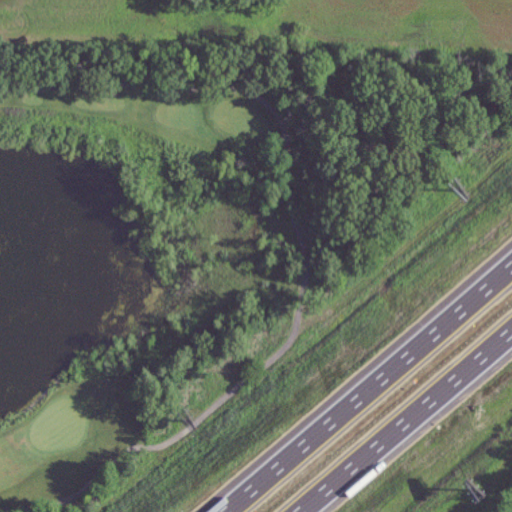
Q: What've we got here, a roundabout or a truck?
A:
truck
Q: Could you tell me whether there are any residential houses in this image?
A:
No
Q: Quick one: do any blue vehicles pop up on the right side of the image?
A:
No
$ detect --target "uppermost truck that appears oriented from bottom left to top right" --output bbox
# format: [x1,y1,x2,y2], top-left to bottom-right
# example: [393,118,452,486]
[346,462,385,498]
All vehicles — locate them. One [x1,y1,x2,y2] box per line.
[346,462,385,498]
[210,498,230,512]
